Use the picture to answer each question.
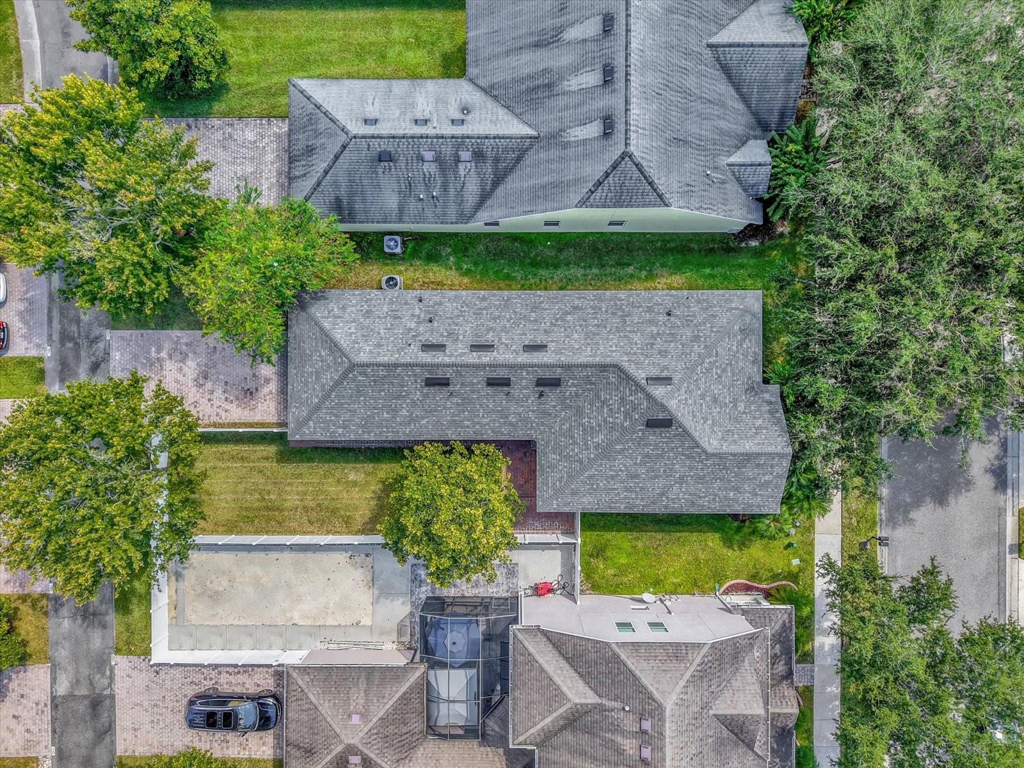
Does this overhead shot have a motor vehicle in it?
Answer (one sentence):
Yes, I can see a motor vehicle in this picture.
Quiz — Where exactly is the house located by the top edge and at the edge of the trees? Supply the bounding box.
[286,0,809,233]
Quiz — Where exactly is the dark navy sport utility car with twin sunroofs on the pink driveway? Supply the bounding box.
[183,688,283,740]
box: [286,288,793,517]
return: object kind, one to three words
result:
house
